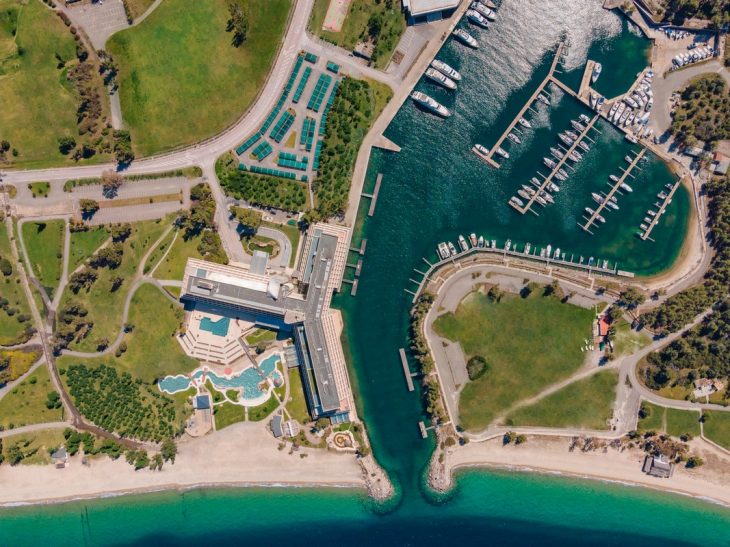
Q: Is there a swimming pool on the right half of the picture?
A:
No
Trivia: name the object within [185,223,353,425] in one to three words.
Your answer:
building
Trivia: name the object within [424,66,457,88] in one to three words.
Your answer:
boat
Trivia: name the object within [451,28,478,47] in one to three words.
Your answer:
boat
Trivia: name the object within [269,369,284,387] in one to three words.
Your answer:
swimming pool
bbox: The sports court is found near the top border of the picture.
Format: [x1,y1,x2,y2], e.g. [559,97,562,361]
[323,0,350,34]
